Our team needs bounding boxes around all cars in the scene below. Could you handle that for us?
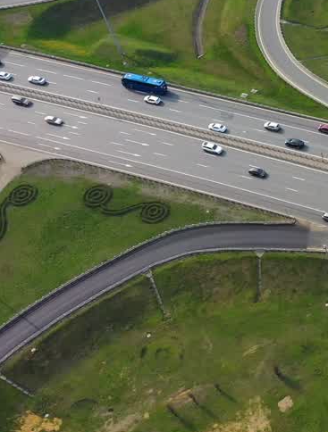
[264,123,280,132]
[12,96,30,106]
[322,214,328,222]
[30,77,46,85]
[0,73,11,80]
[318,125,328,133]
[145,96,162,105]
[209,124,226,133]
[45,117,62,126]
[203,143,222,154]
[286,140,303,150]
[249,167,266,179]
